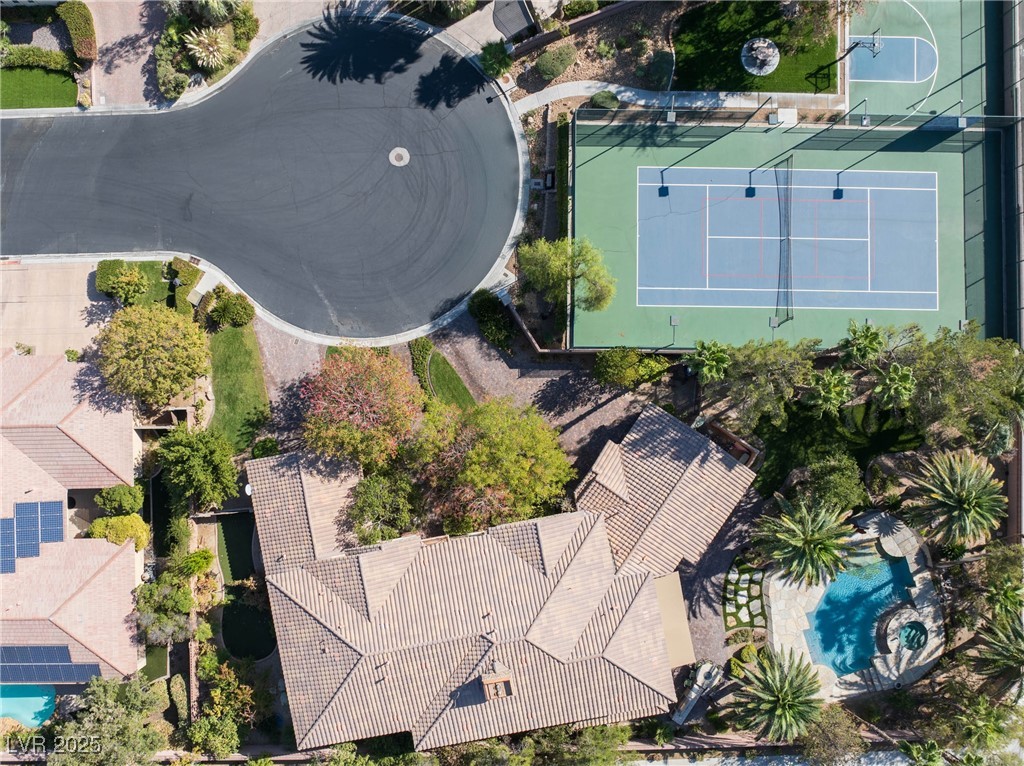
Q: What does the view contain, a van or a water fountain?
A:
water fountain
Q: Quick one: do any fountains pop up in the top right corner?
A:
Yes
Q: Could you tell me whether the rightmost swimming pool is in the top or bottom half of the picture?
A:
bottom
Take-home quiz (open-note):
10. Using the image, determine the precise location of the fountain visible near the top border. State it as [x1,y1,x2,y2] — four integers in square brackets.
[741,37,780,76]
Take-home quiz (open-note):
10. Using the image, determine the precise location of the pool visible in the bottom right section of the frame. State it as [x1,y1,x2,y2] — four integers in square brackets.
[766,507,949,701]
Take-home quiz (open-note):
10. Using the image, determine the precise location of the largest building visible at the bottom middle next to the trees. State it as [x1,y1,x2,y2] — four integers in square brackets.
[246,400,757,753]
